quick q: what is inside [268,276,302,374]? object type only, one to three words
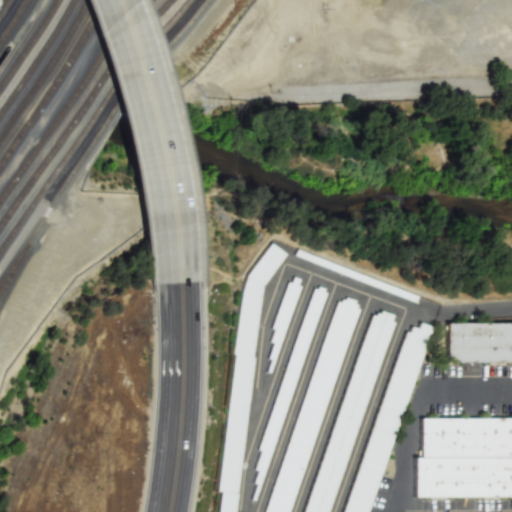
building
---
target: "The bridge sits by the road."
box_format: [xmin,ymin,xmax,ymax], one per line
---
[92,0,209,284]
